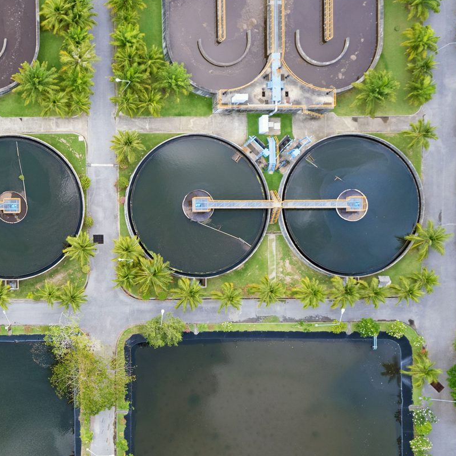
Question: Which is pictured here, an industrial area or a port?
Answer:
industrial area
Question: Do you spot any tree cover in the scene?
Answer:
Yes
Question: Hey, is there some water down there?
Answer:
Yes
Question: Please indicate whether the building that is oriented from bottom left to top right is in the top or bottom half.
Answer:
top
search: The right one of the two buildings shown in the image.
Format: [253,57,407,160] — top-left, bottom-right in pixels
[274,133,311,170]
